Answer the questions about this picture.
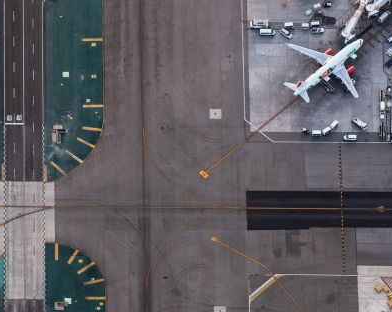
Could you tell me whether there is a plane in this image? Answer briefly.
Yes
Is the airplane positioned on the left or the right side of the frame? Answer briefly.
right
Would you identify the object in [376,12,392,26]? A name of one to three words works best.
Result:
vehicle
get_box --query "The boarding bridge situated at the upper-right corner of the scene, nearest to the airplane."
[340,0,369,44]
